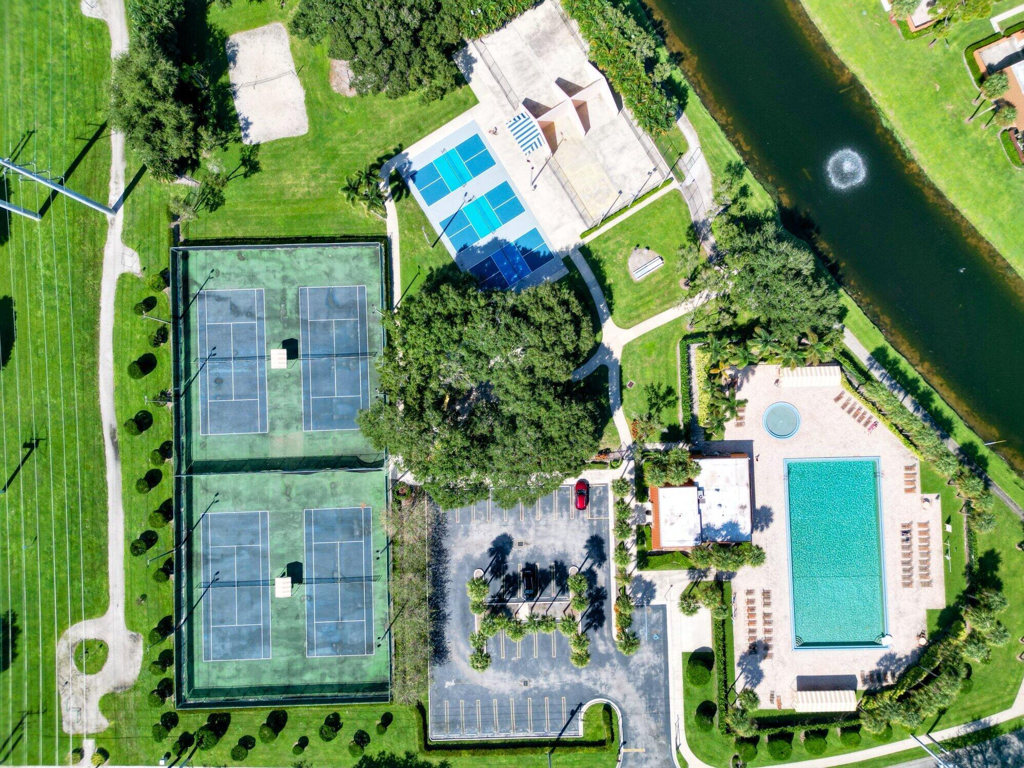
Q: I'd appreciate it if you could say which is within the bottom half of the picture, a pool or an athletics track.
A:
pool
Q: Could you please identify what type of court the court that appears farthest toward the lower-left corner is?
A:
tennis court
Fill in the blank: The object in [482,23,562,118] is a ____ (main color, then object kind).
white sports court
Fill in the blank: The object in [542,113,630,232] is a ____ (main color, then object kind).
white sports court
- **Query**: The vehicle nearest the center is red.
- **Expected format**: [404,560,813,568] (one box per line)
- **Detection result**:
[575,480,590,511]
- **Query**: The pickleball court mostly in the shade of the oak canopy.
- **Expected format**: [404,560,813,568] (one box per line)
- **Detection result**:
[468,227,555,289]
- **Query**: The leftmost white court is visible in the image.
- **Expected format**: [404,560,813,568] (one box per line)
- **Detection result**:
[225,22,309,145]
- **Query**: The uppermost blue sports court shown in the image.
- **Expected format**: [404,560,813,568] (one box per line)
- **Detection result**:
[409,133,496,207]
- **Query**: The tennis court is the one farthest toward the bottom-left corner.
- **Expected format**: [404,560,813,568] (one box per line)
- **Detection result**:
[193,511,276,662]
